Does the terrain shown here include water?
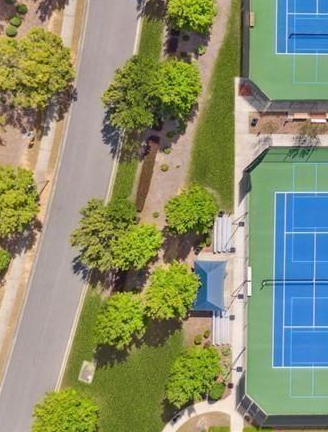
No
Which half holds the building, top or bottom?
bottom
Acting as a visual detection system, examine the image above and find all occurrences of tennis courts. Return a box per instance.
[273,164,328,397]
[276,0,328,83]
